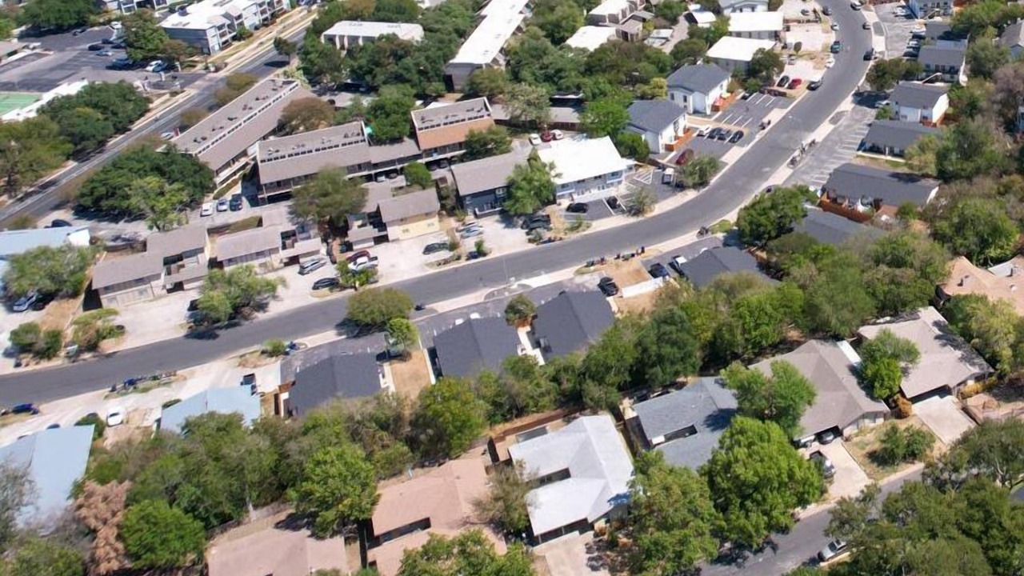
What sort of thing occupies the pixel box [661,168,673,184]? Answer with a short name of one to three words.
vehicle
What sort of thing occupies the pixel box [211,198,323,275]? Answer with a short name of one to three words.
house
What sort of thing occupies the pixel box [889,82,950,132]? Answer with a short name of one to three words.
house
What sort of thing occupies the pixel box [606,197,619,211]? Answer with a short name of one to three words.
vehicle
